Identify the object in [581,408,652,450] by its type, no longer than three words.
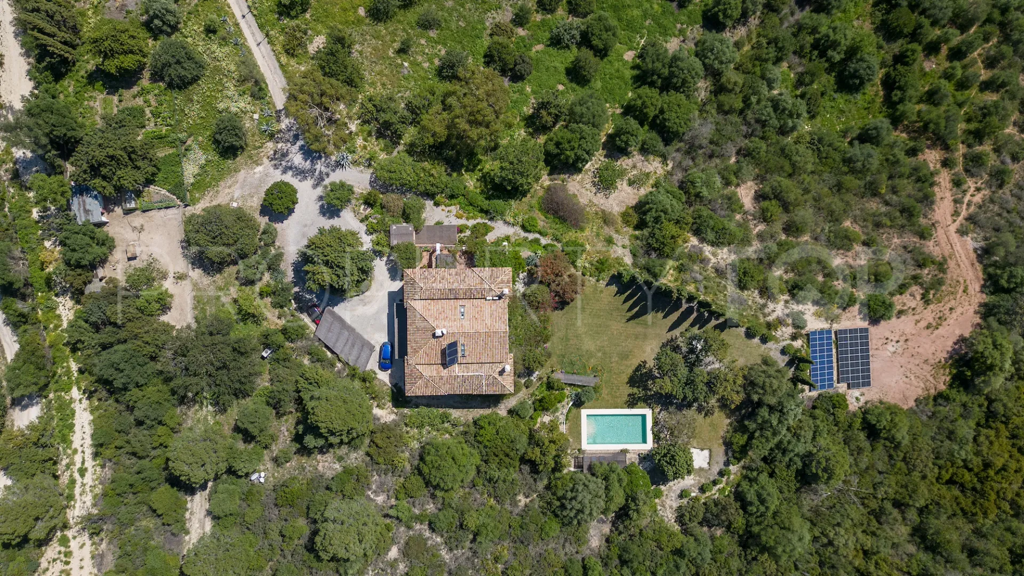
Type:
swimming pool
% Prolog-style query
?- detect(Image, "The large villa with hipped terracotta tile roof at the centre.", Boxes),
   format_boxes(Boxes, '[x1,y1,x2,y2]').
[394,267,515,396]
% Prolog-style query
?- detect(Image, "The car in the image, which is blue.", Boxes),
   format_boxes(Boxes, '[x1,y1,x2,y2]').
[378,341,394,371]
